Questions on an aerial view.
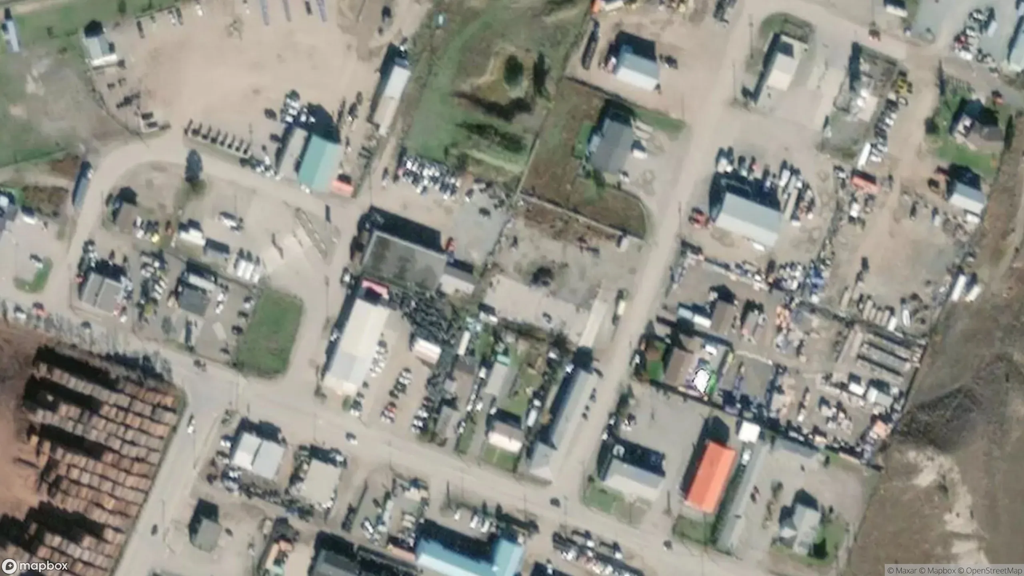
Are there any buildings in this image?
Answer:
Yes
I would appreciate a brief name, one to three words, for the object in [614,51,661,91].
building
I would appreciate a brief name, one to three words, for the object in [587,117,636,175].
house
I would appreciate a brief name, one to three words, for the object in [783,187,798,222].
vehicle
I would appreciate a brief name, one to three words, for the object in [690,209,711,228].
work vehicle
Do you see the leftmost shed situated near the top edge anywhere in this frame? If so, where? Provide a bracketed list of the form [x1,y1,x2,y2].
[4,20,22,52]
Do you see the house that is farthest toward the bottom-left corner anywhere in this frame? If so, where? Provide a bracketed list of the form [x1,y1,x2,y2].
[189,516,222,552]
